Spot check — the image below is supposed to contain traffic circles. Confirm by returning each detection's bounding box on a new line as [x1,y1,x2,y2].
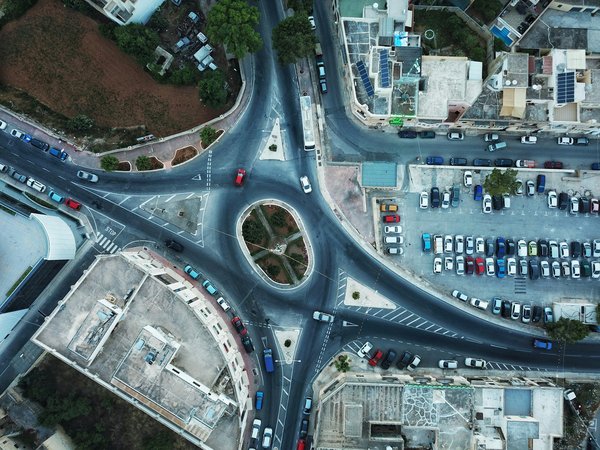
[237,199,315,291]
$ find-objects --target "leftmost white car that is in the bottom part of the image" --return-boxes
[216,295,232,313]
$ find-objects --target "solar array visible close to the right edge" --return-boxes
[557,73,574,103]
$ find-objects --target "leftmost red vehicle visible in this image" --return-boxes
[64,197,83,210]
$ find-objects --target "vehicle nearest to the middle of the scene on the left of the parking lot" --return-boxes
[299,175,312,194]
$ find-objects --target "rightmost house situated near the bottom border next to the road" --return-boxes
[467,374,564,450]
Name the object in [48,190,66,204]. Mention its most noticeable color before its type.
blue car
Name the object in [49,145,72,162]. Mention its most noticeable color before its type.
blue vehicle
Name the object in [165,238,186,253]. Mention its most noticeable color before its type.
black car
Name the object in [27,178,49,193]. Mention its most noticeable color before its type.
white vehicle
